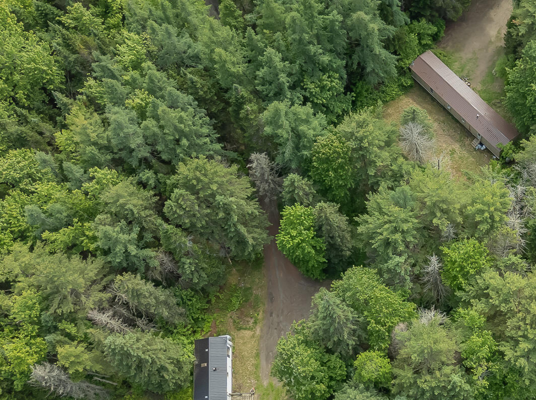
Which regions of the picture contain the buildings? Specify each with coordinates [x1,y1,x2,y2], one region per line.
[193,337,233,400]
[409,50,521,158]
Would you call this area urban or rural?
rural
